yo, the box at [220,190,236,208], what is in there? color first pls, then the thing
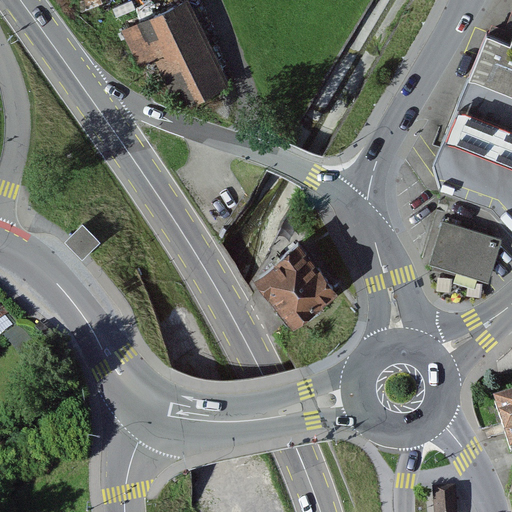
white car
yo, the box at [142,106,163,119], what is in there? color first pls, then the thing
white vehicle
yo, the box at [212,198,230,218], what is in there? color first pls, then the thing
gray car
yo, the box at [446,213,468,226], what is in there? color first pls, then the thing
black vehicle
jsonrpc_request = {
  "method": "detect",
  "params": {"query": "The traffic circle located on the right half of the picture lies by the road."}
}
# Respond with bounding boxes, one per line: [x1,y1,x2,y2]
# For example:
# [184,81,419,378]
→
[340,327,462,449]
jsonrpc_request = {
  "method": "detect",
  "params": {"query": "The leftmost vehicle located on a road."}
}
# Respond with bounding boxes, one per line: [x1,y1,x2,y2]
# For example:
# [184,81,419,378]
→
[30,8,48,29]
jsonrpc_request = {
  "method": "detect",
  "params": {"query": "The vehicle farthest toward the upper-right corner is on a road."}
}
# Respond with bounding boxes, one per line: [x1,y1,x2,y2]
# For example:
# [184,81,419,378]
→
[457,13,472,33]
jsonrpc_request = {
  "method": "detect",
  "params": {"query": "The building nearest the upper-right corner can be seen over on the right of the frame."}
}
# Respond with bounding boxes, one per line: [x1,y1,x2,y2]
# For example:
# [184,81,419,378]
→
[470,34,512,98]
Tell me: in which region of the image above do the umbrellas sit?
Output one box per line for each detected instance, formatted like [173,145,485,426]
[466,284,482,298]
[452,293,461,303]
[436,278,452,292]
